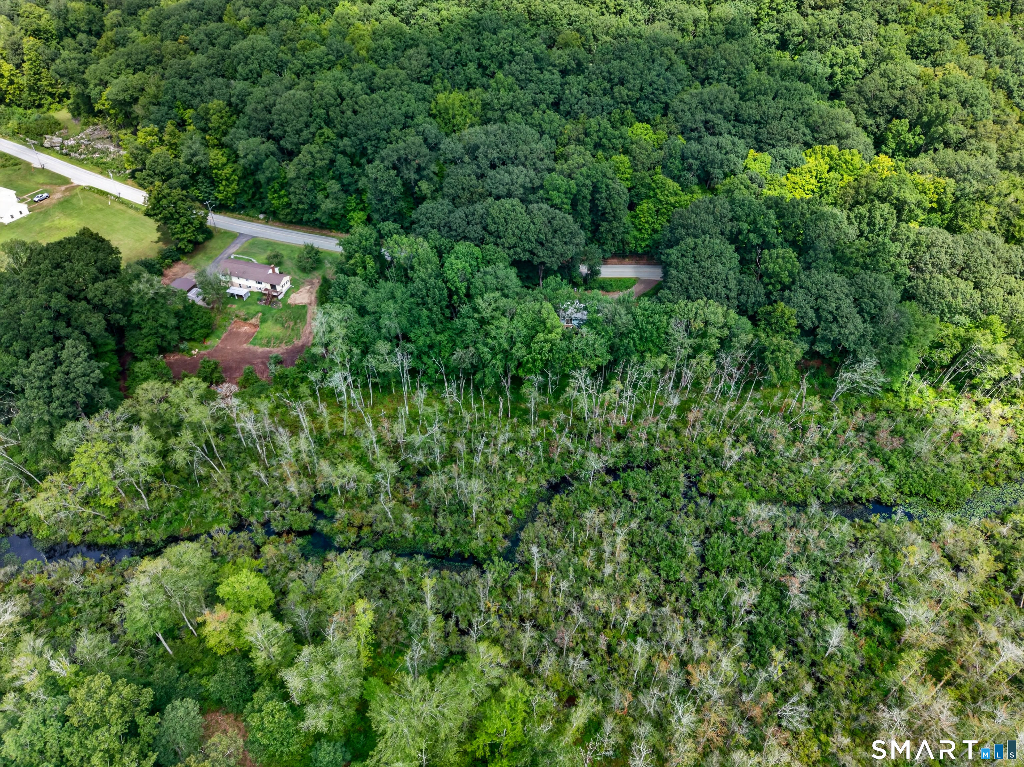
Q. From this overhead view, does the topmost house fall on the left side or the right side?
left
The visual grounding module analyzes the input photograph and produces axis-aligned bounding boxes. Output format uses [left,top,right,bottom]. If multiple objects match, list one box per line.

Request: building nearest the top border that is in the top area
[0,186,30,228]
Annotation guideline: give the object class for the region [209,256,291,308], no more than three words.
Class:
house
